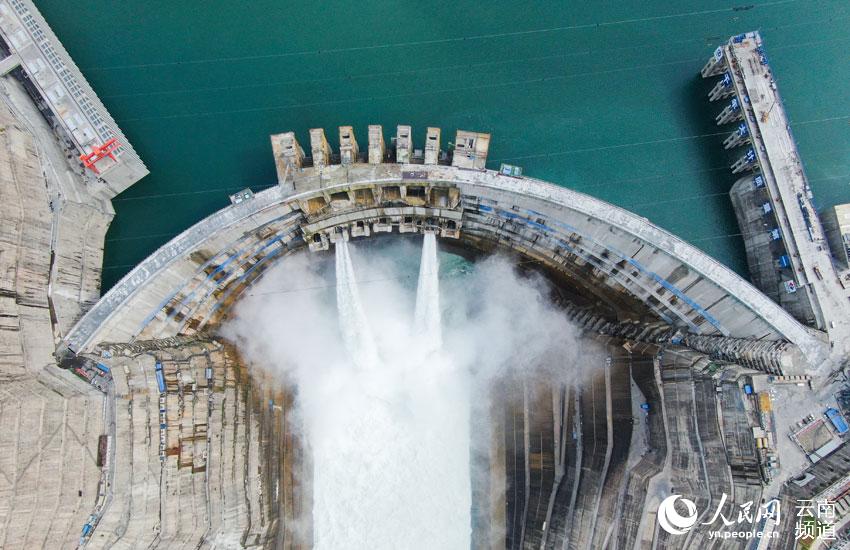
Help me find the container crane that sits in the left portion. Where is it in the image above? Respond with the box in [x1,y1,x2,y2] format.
[75,139,118,177]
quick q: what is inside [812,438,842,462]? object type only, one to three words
shed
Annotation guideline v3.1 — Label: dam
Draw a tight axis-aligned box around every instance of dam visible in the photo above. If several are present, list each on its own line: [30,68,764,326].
[58,124,833,368]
